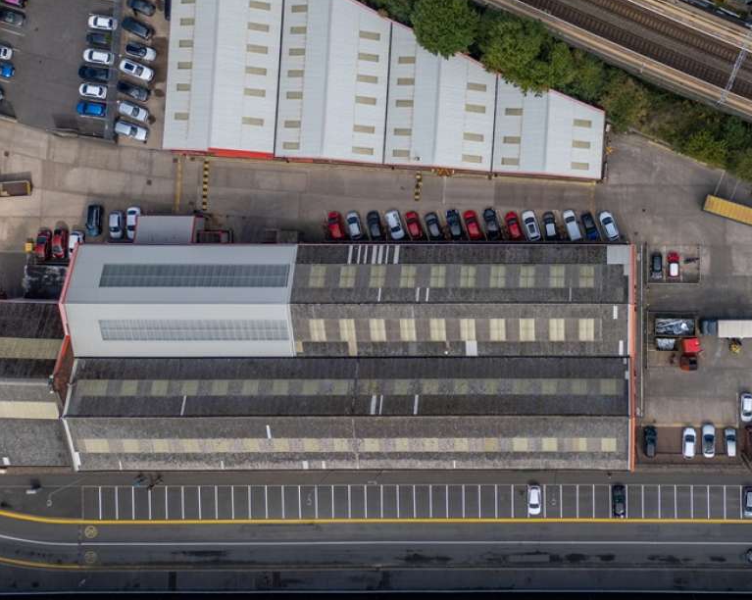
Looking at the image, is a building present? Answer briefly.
Yes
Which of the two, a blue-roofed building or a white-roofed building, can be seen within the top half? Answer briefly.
white-roofed building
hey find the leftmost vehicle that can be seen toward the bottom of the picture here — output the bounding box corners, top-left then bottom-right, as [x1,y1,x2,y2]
[527,485,542,514]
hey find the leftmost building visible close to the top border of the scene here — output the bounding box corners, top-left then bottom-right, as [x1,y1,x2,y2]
[163,0,606,182]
